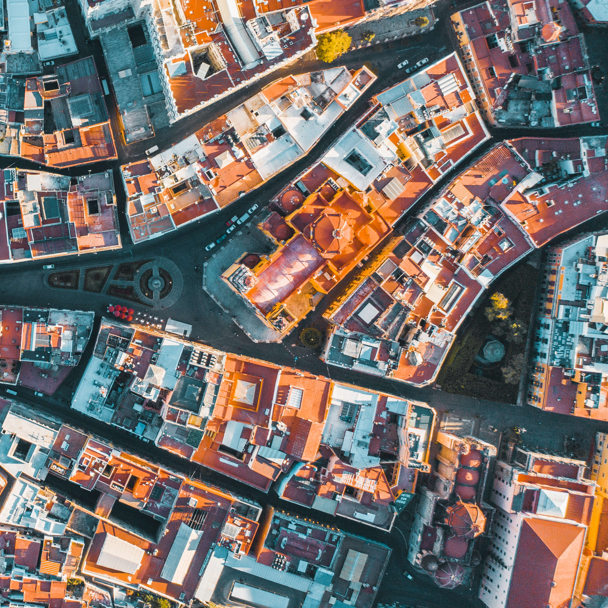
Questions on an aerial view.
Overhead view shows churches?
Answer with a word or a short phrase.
Yes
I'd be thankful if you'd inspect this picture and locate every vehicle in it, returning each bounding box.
[33,390,45,397]
[396,60,408,68]
[247,203,258,213]
[145,145,158,155]
[235,212,252,226]
[5,387,18,396]
[44,60,55,67]
[216,234,227,243]
[101,73,111,99]
[416,58,428,67]
[225,225,236,234]
[225,216,238,227]
[402,570,413,581]
[406,65,417,74]
[206,241,216,249]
